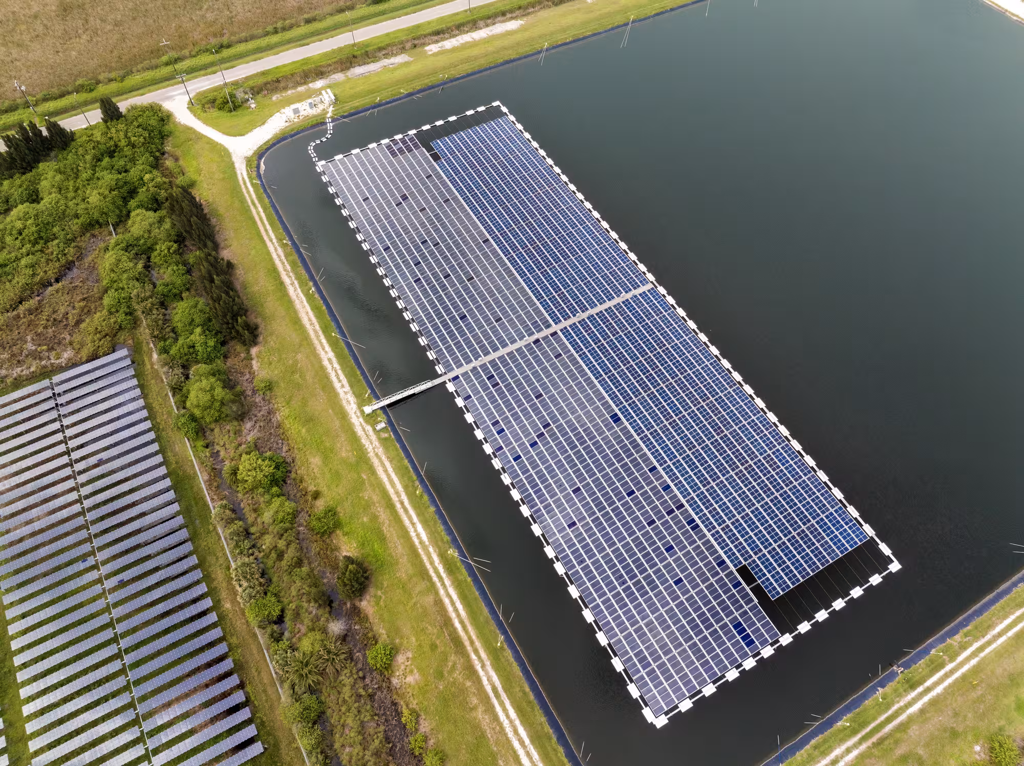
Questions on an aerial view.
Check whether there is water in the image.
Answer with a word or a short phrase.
Yes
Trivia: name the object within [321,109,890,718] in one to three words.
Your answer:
solar array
